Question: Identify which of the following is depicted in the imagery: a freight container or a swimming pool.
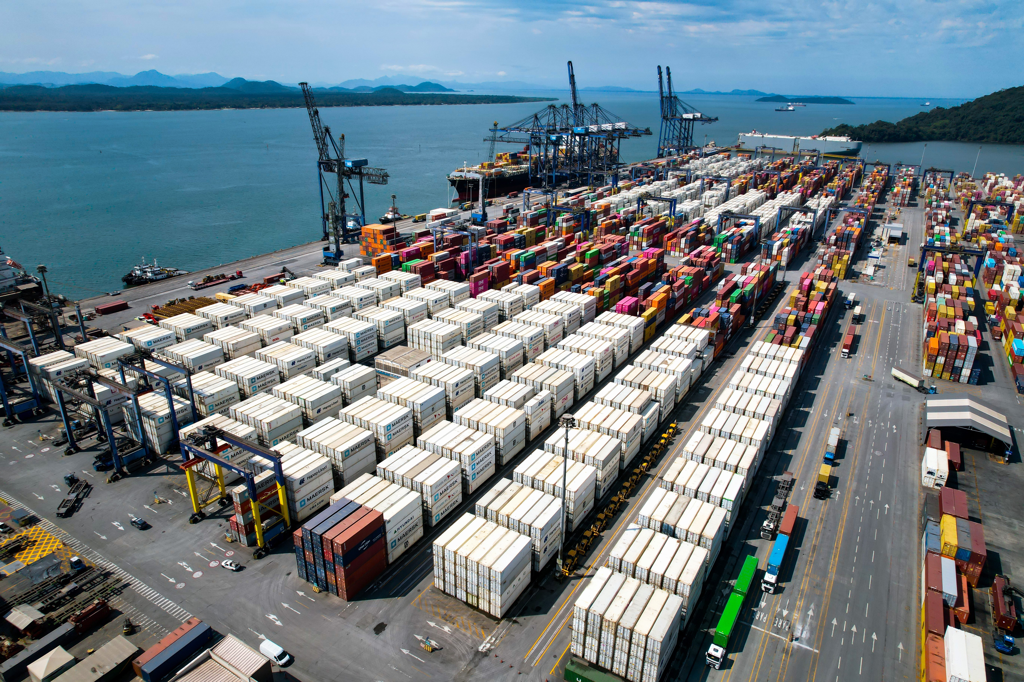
freight container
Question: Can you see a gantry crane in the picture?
Yes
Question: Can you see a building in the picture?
Yes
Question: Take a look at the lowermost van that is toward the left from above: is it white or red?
white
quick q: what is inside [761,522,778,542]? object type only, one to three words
vehicle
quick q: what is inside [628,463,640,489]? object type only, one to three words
vehicle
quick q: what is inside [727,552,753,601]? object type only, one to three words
shipping container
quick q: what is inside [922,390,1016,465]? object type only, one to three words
shed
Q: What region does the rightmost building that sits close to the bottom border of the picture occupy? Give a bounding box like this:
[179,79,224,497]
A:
[163,631,260,682]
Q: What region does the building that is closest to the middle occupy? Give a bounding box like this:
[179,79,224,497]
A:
[372,346,433,378]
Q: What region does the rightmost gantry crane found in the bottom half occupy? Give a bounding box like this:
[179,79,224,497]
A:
[168,417,301,560]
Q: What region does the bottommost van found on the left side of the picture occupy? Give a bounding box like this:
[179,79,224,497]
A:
[261,638,294,672]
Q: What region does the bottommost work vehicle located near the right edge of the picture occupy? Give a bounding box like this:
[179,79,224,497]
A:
[994,633,1013,657]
